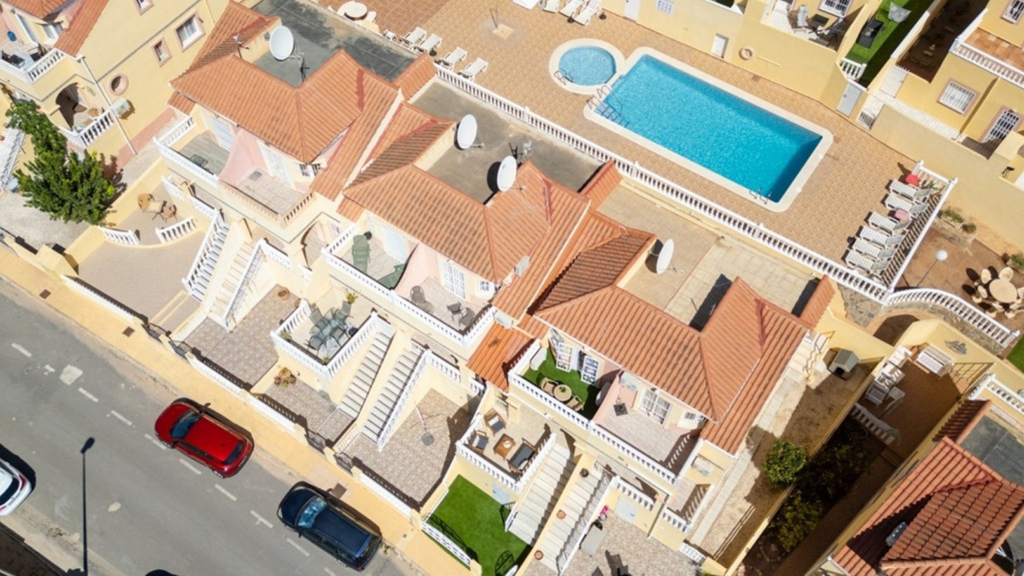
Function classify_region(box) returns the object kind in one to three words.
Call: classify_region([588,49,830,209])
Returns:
swimming pool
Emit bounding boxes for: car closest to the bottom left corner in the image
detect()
[0,462,31,518]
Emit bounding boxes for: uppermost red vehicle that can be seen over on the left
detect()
[160,406,254,479]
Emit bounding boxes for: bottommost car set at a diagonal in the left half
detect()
[281,485,384,573]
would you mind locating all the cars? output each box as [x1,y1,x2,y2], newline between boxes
[0,462,31,518]
[160,406,254,479]
[281,485,384,573]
